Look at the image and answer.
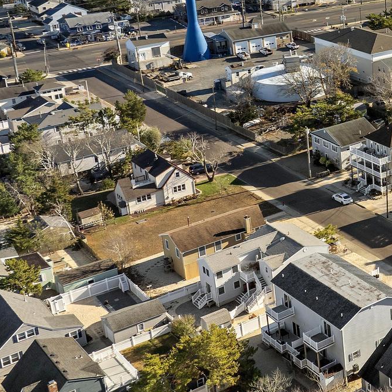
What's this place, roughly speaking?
residential area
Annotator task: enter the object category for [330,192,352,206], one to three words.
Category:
car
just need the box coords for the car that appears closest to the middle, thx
[186,162,208,175]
